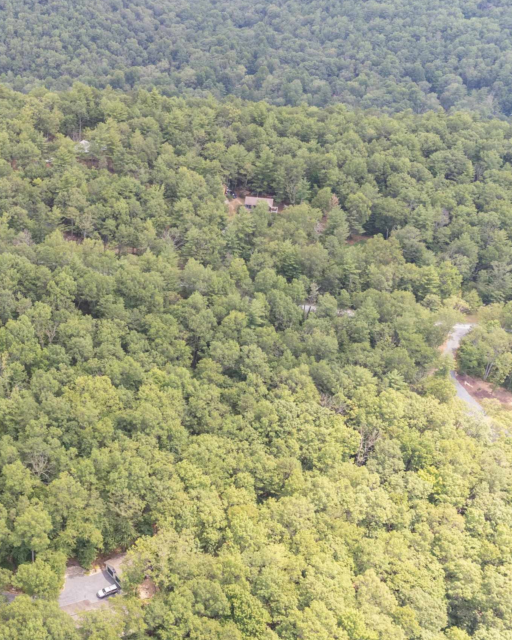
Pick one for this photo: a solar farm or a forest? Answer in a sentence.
The picture captures a forest.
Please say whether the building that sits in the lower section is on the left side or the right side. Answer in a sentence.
The building that sits in the lower section is on the left side of the image.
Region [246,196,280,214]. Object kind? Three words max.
building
